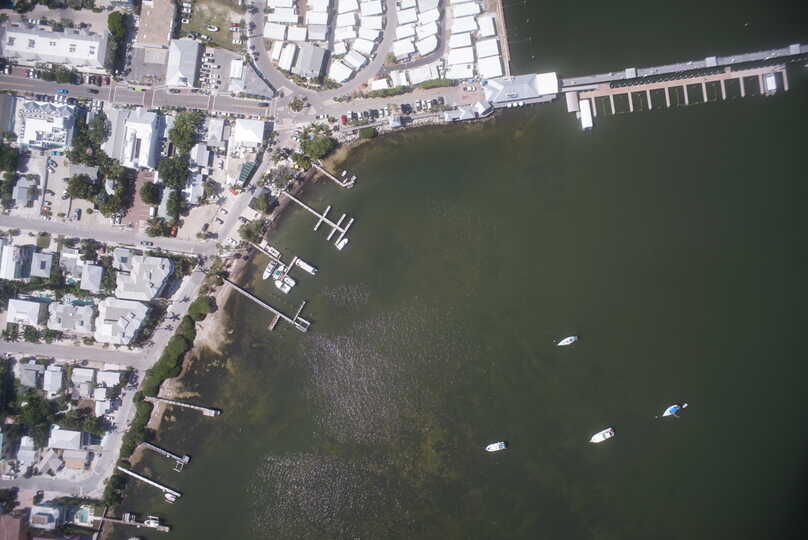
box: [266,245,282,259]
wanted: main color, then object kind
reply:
white boat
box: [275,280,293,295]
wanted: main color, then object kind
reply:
white boat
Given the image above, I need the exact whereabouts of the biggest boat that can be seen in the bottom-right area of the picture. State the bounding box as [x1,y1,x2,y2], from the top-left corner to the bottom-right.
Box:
[589,427,616,444]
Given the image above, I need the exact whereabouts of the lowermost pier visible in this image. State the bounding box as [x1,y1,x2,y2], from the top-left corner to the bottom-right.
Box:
[92,514,170,534]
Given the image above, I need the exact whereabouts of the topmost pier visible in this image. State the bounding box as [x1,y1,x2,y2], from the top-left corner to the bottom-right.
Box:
[559,42,808,88]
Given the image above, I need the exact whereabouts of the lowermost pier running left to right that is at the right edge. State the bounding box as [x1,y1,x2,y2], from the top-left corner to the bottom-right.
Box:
[561,65,791,116]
